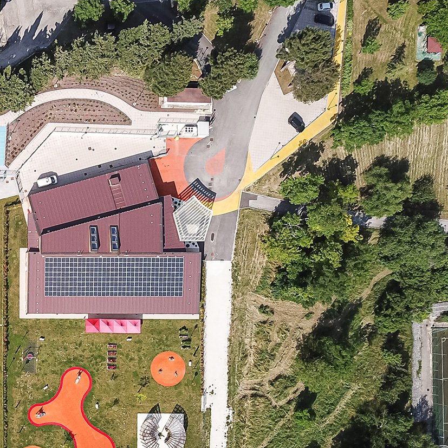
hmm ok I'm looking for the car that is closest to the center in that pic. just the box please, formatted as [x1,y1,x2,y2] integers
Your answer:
[291,111,307,132]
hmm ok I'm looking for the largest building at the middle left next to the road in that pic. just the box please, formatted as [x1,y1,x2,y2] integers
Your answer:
[26,163,208,314]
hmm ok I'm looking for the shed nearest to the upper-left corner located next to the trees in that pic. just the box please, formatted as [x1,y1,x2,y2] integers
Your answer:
[157,85,211,110]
